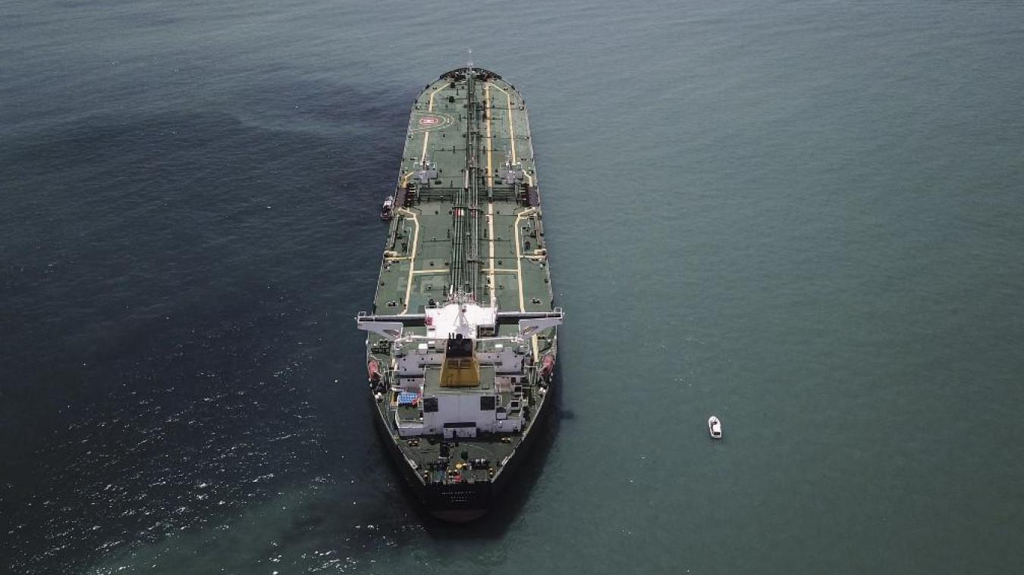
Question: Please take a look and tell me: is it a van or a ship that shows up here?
ship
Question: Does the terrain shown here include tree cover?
No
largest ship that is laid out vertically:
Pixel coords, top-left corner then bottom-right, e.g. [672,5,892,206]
[354,50,567,524]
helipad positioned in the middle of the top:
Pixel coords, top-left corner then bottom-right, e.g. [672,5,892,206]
[412,113,455,130]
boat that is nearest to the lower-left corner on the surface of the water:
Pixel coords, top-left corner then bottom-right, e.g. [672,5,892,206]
[368,355,382,383]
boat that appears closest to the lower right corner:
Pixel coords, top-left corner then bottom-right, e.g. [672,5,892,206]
[708,417,723,441]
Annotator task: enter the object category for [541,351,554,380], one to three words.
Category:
boat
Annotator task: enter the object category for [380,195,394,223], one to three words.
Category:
boat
